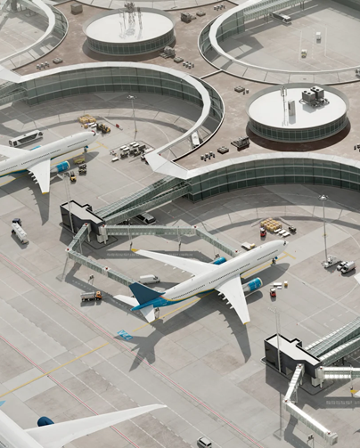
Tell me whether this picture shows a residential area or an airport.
airport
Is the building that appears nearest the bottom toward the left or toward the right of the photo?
right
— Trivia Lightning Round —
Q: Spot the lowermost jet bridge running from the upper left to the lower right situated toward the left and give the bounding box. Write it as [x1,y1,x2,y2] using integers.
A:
[63,223,157,292]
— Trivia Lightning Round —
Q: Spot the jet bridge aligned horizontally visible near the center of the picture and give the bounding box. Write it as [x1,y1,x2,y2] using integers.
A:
[104,220,244,257]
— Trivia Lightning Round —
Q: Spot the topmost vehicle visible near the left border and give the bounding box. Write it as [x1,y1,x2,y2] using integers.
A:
[9,126,43,144]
